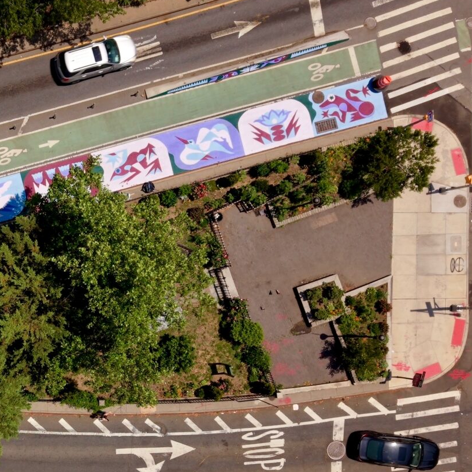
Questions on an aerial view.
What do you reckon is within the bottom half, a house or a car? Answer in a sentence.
There is a car within the bottom half.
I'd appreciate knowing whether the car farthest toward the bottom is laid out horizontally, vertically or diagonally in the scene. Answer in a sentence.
The car farthest toward the bottom has been laid out horizontally relative to the frame.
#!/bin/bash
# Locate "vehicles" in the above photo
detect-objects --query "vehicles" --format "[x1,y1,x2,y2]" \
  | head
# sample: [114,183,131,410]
[346,425,439,471]
[45,29,140,85]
